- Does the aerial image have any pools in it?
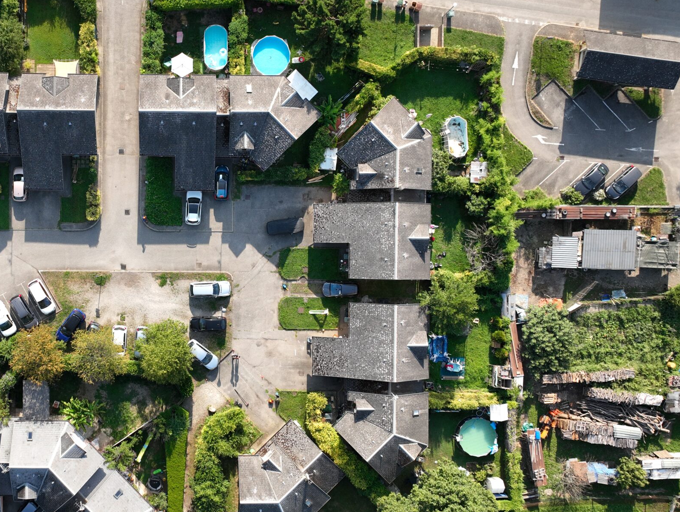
Yes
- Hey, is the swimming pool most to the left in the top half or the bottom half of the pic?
top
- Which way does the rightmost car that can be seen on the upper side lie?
diagonally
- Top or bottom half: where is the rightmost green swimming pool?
bottom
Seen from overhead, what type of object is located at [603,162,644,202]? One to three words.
car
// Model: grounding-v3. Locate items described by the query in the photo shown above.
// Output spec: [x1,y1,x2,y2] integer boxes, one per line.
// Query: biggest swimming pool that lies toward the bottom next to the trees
[448,414,497,456]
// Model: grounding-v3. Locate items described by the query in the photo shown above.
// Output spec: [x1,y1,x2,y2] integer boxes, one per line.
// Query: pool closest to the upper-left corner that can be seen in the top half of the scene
[203,25,228,74]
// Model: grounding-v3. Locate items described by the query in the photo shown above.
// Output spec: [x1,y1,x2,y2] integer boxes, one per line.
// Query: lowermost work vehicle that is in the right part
[530,403,560,437]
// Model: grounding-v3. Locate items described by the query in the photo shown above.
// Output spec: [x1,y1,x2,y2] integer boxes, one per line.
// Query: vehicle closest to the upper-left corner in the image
[9,168,29,201]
